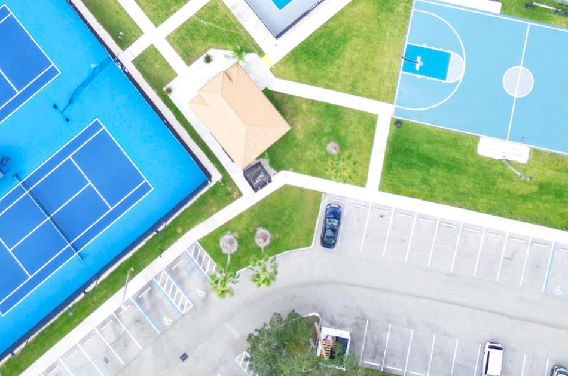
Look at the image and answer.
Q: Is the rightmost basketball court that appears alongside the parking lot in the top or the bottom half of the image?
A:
top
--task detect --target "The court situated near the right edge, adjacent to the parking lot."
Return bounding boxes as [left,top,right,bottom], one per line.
[392,0,568,156]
